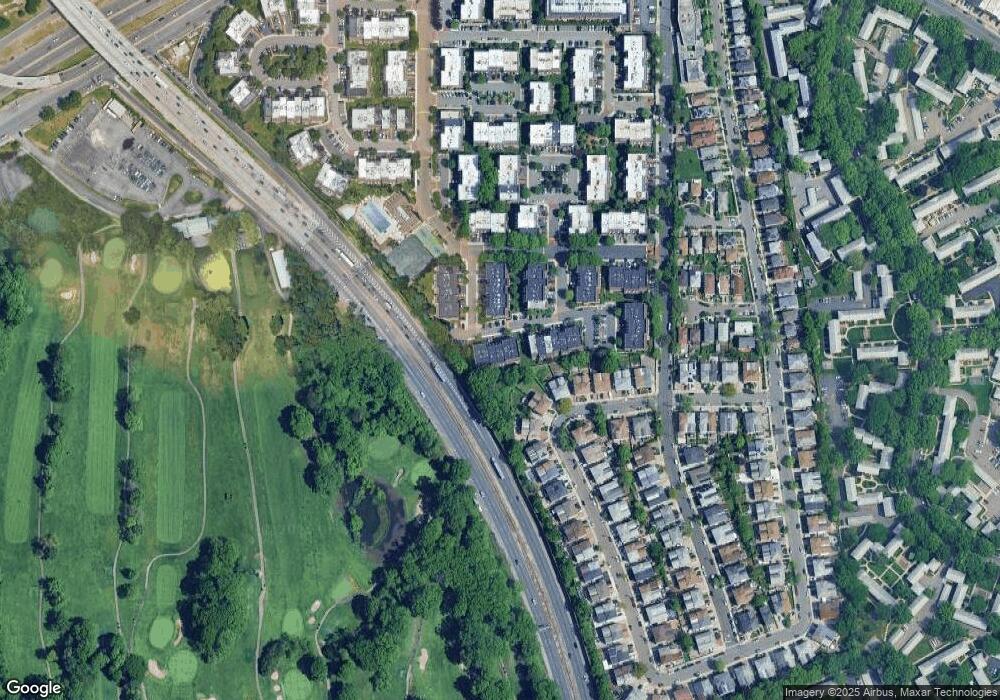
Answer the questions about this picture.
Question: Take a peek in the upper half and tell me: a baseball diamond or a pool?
pool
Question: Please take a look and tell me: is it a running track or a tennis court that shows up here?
tennis court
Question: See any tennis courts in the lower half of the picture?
No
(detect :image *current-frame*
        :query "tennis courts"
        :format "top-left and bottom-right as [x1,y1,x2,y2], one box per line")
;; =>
[387,233,433,279]
[415,225,444,257]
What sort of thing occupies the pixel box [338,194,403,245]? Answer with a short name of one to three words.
swimming pool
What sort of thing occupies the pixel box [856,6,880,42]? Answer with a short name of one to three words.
building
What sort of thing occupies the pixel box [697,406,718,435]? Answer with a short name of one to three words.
house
